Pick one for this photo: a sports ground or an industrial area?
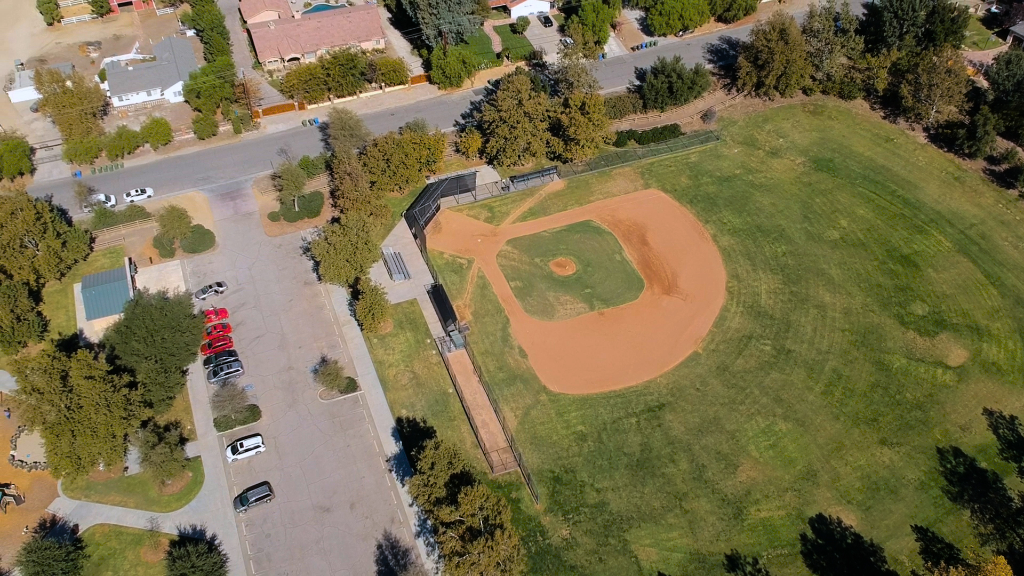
sports ground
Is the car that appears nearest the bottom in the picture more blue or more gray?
gray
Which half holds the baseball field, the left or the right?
right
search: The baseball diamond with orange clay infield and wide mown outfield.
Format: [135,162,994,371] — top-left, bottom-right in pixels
[424,105,1024,576]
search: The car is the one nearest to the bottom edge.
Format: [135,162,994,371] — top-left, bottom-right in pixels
[231,482,276,513]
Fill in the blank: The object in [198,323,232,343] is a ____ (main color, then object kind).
red car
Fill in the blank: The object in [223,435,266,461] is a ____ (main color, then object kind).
white car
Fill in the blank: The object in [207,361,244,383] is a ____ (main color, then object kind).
gray car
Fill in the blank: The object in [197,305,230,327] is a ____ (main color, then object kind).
red car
